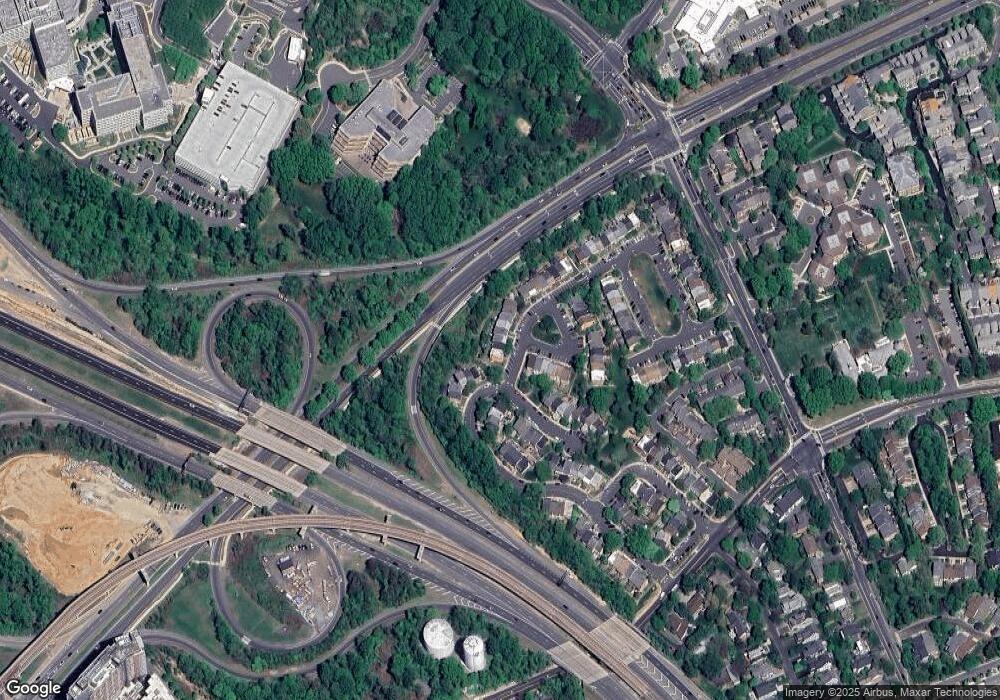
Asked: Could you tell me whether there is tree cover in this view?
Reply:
Yes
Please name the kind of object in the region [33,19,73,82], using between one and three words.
building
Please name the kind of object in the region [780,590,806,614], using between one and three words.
house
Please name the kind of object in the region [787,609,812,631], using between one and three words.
house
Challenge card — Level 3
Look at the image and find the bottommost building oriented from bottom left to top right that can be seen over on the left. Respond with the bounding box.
[62,630,148,700]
